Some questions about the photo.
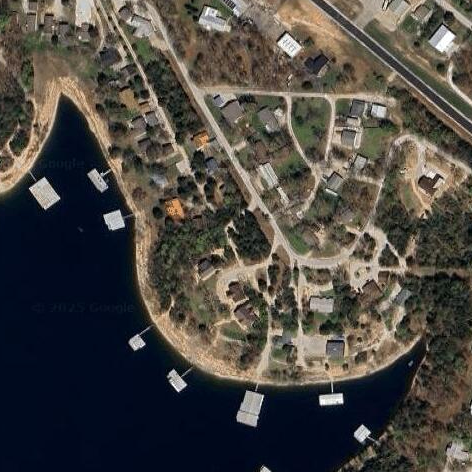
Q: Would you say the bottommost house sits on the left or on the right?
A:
right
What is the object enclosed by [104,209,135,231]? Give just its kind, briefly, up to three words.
pier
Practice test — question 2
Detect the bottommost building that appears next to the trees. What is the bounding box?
[447,441,470,460]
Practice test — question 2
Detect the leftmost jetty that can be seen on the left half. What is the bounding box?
[28,171,61,210]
